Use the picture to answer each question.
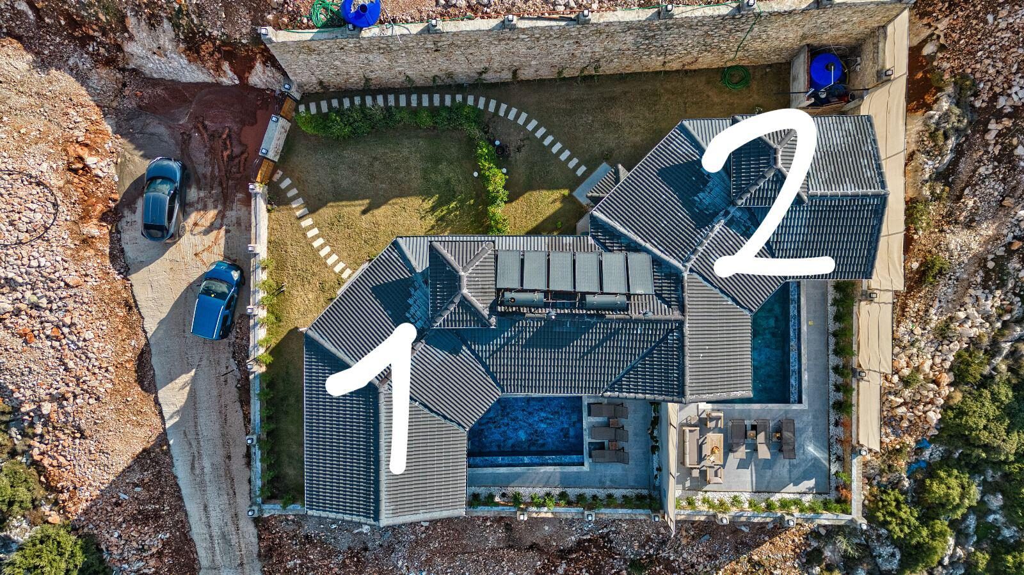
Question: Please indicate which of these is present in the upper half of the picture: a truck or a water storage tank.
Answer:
water storage tank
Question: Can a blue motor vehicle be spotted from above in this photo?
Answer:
Yes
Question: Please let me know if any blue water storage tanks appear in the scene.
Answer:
Yes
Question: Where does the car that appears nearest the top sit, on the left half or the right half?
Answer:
left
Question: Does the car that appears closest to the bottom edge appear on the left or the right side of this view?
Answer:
left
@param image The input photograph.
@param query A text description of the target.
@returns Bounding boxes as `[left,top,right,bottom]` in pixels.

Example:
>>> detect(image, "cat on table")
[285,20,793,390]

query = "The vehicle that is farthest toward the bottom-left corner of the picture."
[192,258,248,346]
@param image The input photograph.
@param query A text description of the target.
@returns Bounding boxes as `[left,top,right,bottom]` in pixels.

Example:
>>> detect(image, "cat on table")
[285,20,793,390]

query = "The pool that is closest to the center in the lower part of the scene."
[466,396,588,472]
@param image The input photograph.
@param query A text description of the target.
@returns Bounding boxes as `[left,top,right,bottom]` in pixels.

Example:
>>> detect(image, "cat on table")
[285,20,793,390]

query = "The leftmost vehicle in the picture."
[139,157,190,246]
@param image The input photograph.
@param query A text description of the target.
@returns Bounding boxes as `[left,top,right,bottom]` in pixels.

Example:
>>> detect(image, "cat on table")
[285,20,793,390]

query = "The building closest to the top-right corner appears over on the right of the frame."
[583,112,890,405]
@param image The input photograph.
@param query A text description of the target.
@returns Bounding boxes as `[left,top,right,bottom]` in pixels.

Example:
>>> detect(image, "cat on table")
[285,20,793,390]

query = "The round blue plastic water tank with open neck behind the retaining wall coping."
[343,0,385,35]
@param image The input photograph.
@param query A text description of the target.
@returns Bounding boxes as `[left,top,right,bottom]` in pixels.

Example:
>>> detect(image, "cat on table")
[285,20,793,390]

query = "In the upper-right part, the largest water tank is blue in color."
[811,57,839,96]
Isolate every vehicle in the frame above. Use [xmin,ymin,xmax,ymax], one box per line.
[192,258,248,346]
[139,157,190,246]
